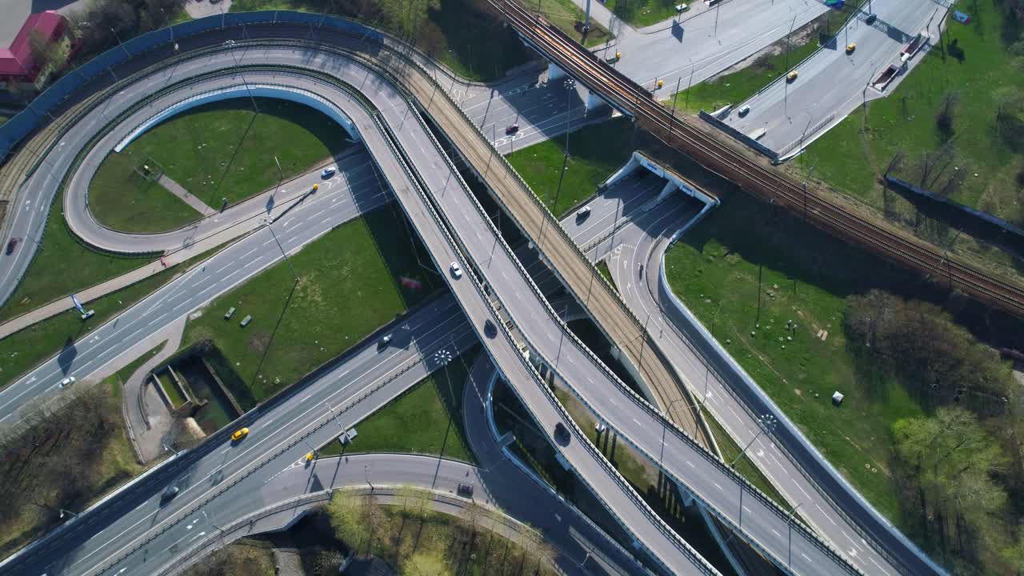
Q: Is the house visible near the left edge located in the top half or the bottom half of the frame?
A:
top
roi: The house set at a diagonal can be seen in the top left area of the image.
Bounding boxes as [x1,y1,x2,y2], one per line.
[0,10,73,85]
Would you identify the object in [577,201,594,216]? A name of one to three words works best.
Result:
vehicle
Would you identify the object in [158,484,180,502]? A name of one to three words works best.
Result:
car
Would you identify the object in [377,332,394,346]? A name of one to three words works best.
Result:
car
